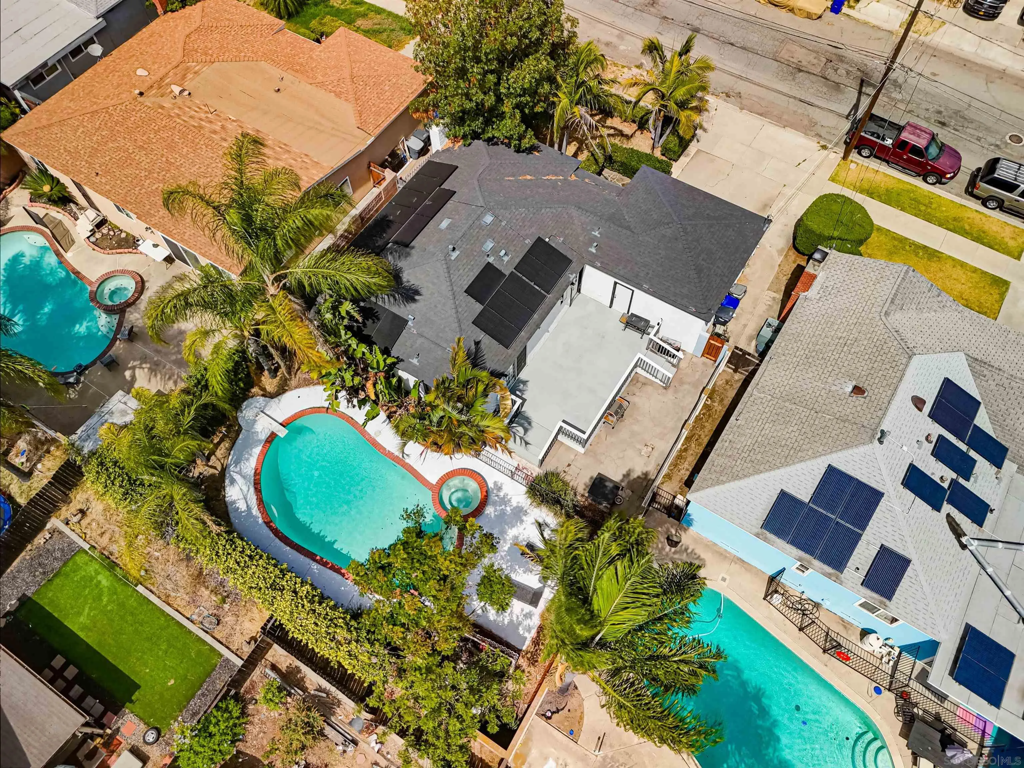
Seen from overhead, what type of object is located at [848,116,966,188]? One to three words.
truck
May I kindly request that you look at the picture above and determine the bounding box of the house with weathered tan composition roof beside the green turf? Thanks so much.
[0,636,104,768]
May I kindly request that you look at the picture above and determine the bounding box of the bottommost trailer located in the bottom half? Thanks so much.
[588,473,637,509]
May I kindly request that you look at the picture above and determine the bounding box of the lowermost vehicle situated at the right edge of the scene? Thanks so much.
[974,162,1024,216]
